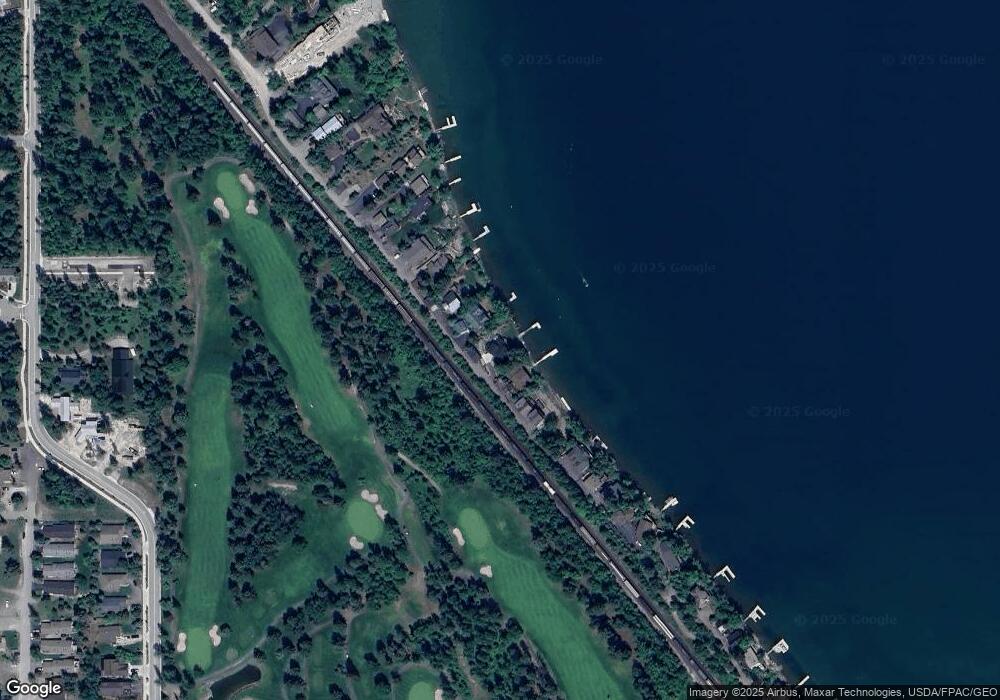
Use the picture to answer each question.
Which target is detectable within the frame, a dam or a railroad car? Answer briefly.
railroad car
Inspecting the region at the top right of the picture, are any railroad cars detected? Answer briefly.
No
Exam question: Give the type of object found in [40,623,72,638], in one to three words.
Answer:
house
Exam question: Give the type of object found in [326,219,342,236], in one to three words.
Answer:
rail car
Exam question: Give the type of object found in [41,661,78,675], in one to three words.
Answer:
house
